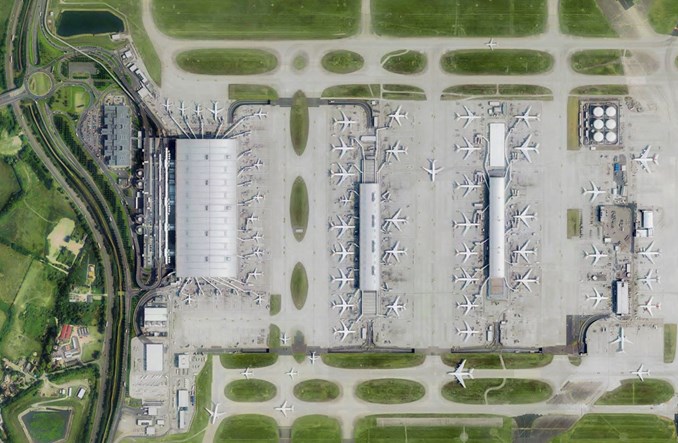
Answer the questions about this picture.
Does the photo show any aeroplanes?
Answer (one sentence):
Yes, an aeroplane appears in the view.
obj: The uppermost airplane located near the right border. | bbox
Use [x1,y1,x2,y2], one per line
[633,145,661,173]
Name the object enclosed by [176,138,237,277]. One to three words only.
building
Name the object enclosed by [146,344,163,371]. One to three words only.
building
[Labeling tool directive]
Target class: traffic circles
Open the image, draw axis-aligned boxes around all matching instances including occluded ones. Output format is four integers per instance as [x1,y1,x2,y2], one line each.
[24,70,55,101]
